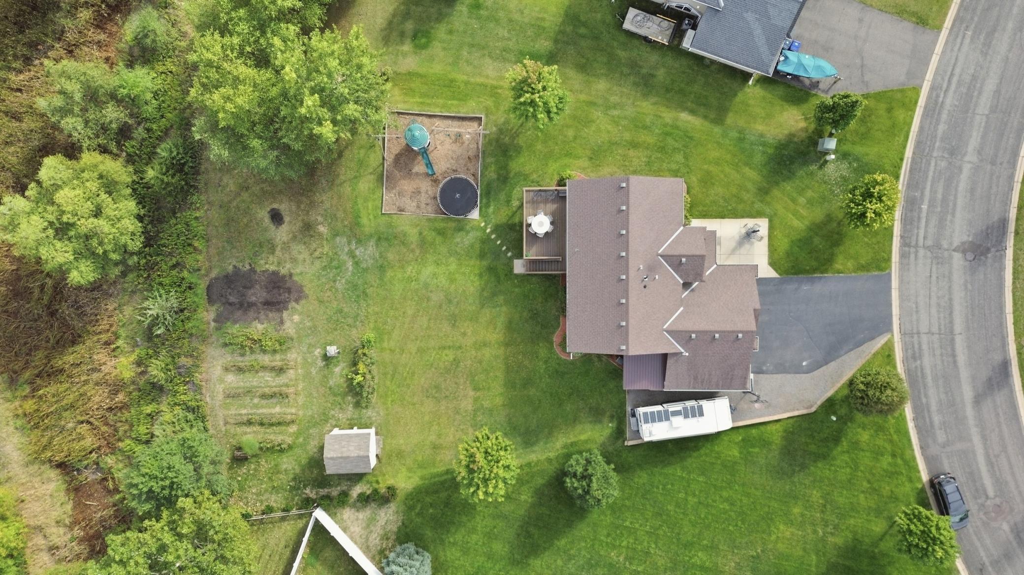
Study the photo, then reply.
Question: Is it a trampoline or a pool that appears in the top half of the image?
trampoline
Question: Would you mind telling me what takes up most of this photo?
grass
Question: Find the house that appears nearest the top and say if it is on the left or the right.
right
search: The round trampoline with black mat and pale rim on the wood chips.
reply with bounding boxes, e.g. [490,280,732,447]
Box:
[438,176,479,216]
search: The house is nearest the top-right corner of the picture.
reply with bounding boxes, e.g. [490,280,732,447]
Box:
[629,0,802,84]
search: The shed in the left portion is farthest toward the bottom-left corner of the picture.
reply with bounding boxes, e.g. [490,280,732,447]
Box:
[323,424,385,474]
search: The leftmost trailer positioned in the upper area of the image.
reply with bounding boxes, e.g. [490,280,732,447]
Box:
[616,7,679,44]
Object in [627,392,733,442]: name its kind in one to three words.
trailer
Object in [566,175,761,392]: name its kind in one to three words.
house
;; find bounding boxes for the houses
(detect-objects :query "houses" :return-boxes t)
[629,0,802,84]
[566,175,761,392]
